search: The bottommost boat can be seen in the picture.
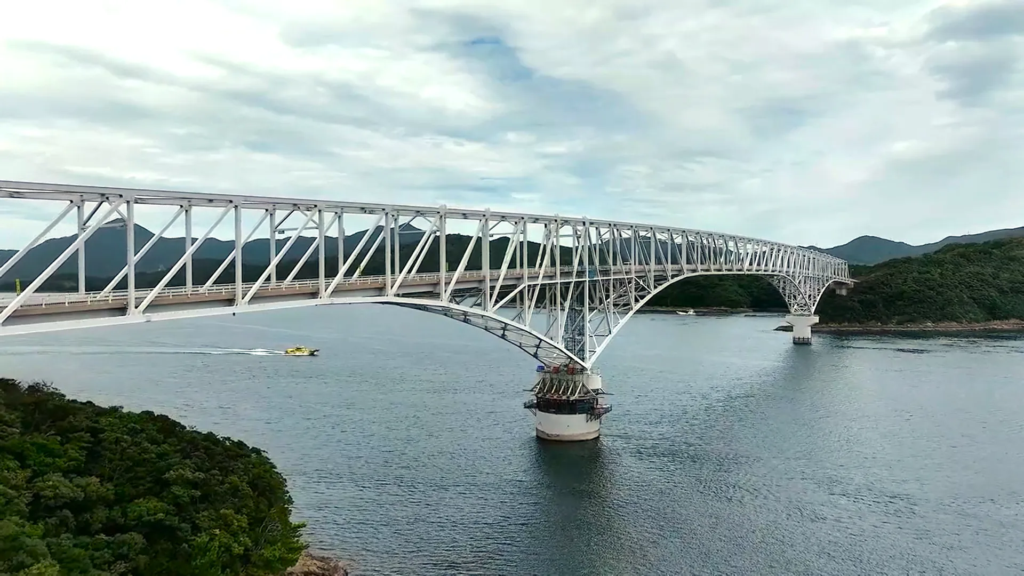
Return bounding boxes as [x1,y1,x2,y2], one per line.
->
[285,343,320,355]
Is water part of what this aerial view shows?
Yes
